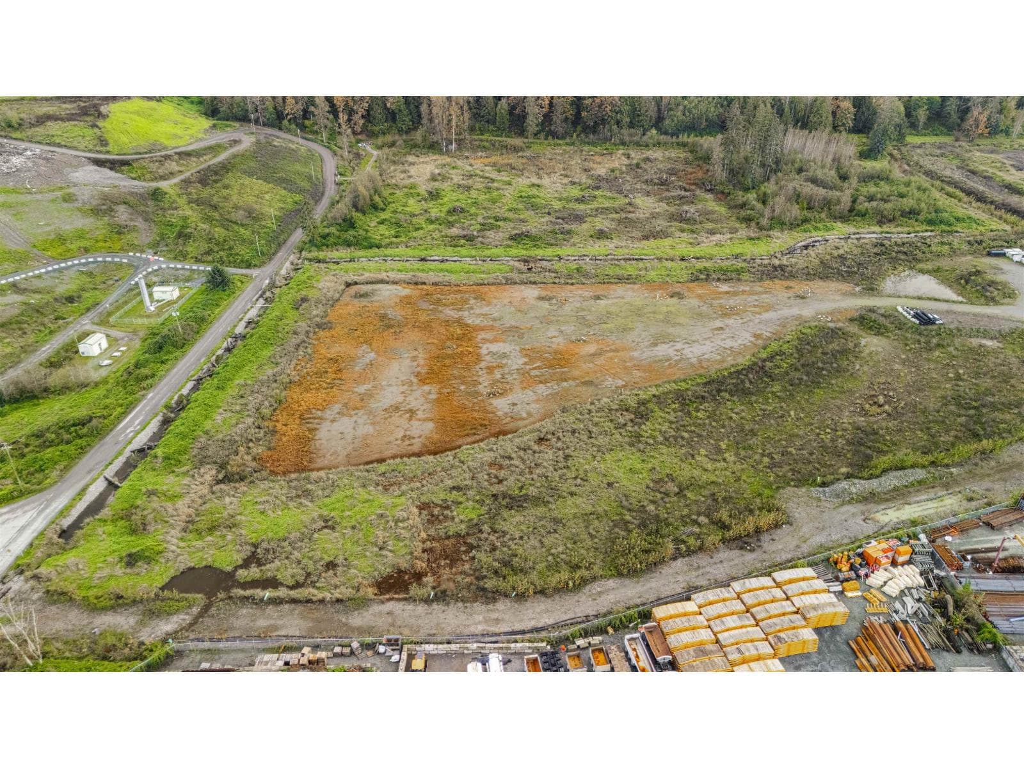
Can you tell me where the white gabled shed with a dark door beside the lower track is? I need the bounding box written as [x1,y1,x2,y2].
[76,334,103,356]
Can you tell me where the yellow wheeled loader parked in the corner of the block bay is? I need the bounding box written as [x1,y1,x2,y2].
[408,649,428,677]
